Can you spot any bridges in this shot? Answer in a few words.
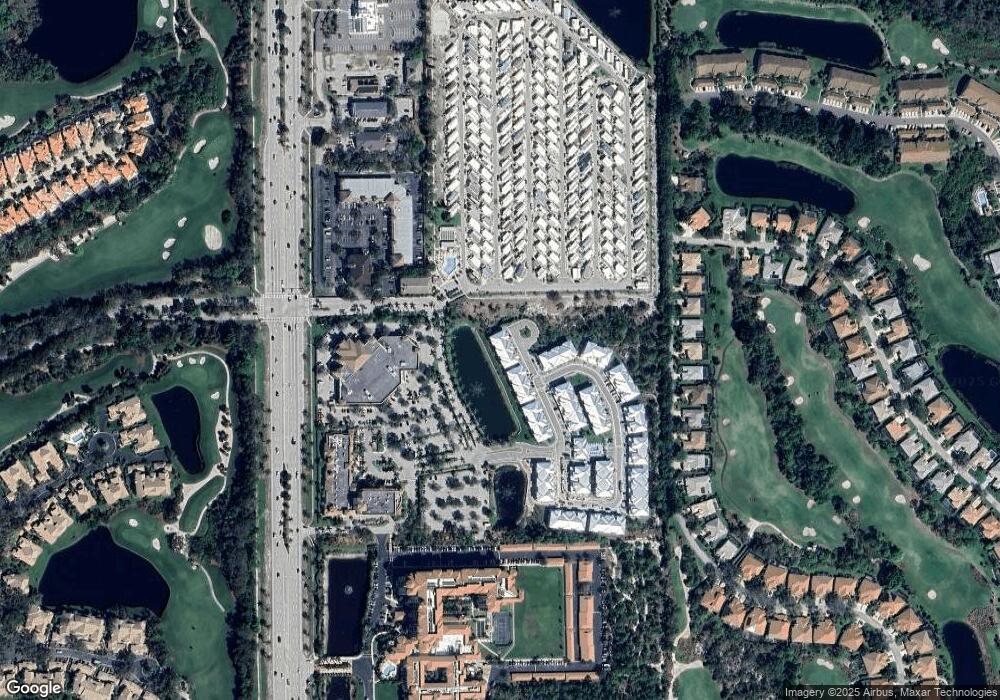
No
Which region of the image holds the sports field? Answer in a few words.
bottom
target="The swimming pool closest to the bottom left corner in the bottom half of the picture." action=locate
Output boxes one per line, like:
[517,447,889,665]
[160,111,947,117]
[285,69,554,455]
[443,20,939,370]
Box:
[66,428,88,444]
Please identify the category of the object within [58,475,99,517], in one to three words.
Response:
house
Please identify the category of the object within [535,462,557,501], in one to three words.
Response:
building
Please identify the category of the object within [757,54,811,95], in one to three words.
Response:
building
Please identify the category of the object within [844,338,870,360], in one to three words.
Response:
house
